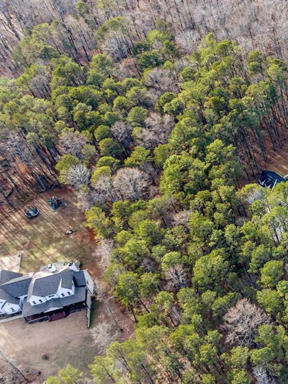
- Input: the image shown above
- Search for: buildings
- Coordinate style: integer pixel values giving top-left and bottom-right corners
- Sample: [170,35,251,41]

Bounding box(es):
[0,254,100,333]
[253,167,288,195]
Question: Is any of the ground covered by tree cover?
Yes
